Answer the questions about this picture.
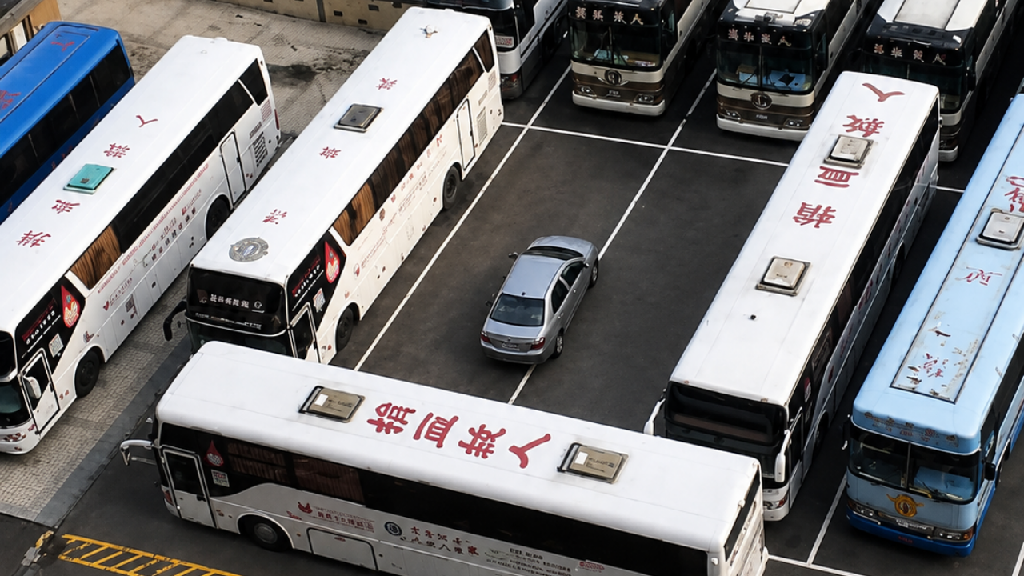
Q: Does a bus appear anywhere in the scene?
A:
Yes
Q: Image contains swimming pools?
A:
No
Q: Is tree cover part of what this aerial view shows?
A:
No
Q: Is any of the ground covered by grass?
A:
No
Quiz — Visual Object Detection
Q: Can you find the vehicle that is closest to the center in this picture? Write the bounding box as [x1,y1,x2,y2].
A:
[477,235,595,367]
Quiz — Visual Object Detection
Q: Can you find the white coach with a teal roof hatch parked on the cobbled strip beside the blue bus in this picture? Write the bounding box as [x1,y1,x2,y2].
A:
[0,32,280,443]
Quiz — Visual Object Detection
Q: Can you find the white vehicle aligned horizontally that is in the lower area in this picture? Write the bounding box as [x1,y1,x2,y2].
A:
[123,345,767,576]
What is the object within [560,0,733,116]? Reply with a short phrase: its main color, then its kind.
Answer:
black bus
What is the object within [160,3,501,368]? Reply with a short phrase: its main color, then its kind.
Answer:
white bus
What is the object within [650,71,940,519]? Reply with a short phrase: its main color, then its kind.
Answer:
white bus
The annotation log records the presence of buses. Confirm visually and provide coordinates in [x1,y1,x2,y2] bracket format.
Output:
[854,0,1021,159]
[0,32,280,443]
[160,3,501,368]
[436,0,549,92]
[560,0,733,116]
[650,71,940,519]
[0,20,138,233]
[831,101,1024,549]
[705,0,884,137]
[123,345,767,576]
